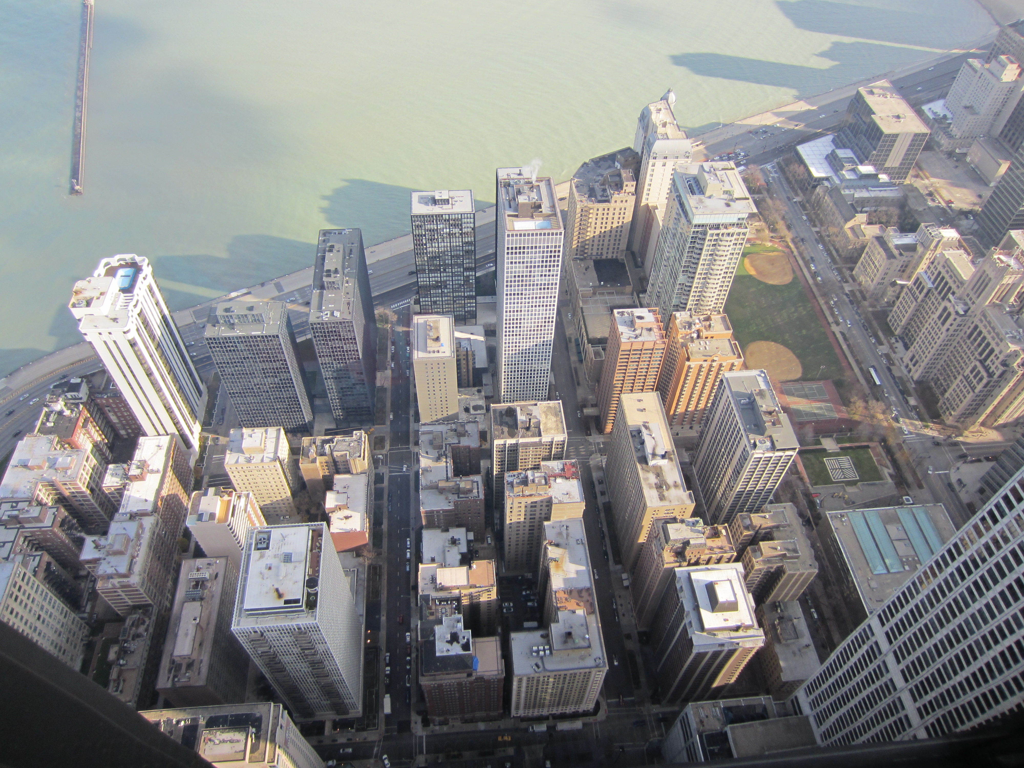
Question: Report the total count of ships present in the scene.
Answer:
zero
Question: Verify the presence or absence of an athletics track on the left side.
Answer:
No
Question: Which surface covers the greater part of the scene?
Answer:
buildings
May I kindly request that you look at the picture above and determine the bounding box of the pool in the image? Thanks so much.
[507,219,559,231]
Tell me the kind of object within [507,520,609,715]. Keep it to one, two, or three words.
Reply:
building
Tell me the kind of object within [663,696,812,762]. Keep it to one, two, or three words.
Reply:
building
